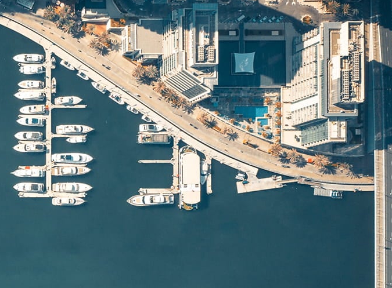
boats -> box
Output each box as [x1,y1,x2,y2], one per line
[53,125,95,134]
[51,166,91,175]
[51,153,95,163]
[52,96,83,104]
[75,71,89,80]
[12,168,46,177]
[51,183,93,192]
[13,183,46,192]
[136,124,164,132]
[50,197,86,205]
[108,91,123,104]
[13,143,46,152]
[16,117,46,126]
[19,65,45,74]
[93,83,108,96]
[20,105,46,114]
[14,91,46,99]
[14,132,44,140]
[125,103,139,113]
[13,53,46,63]
[140,113,151,122]
[127,195,175,206]
[66,137,88,143]
[177,148,200,211]
[233,173,245,180]
[19,80,46,89]
[59,59,75,70]
[137,134,171,143]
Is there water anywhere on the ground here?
Yes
